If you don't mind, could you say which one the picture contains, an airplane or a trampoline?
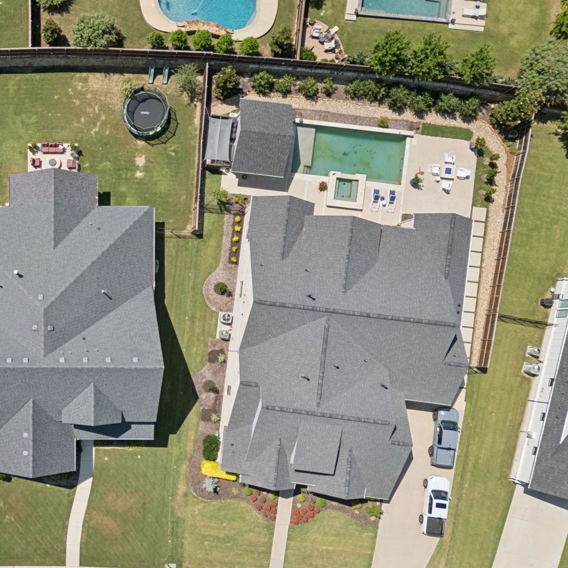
trampoline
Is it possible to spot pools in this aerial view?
Yes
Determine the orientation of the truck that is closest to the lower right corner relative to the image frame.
up and down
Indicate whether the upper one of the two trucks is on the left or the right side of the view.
right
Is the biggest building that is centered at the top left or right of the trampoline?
to its right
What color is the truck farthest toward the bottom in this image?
white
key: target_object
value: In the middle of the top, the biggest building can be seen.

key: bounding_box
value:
[227,97,293,179]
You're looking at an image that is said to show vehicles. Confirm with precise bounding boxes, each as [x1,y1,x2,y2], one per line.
[427,405,460,471]
[418,473,453,540]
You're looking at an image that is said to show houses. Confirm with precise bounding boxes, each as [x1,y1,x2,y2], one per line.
[0,168,164,479]
[218,195,473,500]
[503,278,568,498]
